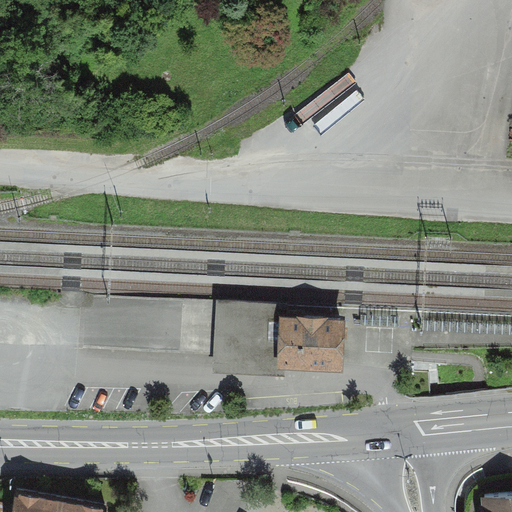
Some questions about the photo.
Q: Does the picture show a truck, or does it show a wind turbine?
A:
truck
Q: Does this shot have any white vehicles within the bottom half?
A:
Yes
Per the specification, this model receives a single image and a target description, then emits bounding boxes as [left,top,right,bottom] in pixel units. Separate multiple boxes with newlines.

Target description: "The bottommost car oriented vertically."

[200,480,214,506]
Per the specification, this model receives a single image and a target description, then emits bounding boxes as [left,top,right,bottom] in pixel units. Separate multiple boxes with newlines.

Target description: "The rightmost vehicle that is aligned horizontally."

[366,440,392,452]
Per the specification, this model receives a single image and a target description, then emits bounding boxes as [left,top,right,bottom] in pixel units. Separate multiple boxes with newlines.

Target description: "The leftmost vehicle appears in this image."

[68,382,86,409]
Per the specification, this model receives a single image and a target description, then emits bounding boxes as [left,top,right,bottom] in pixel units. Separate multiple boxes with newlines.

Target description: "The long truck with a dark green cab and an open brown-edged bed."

[284,72,358,136]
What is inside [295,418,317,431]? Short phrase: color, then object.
white vehicle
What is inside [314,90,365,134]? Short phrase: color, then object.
white trailer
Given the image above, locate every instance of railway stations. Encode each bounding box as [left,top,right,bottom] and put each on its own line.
[278,314,348,374]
